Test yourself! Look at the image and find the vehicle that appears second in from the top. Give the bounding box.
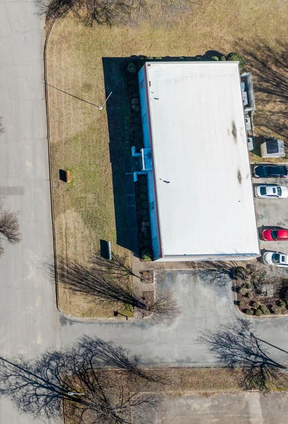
[254,183,288,199]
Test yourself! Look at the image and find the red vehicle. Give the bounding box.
[260,226,288,242]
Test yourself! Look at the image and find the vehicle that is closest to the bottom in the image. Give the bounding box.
[262,249,288,267]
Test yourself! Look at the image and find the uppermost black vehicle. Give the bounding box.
[252,162,288,179]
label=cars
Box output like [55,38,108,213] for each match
[254,183,288,199]
[262,249,288,267]
[252,162,288,179]
[260,226,288,242]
